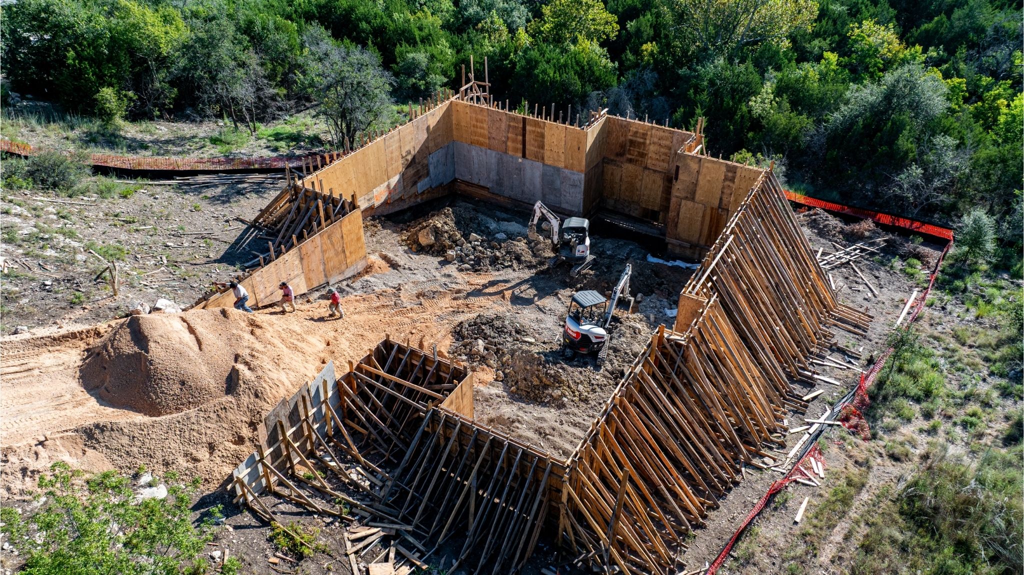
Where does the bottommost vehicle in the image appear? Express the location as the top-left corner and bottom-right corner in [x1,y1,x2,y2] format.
[560,268,640,363]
